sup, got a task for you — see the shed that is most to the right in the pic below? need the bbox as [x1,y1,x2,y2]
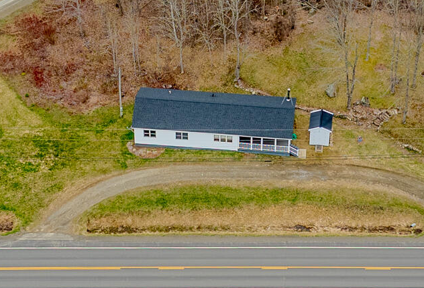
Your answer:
[308,110,332,146]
